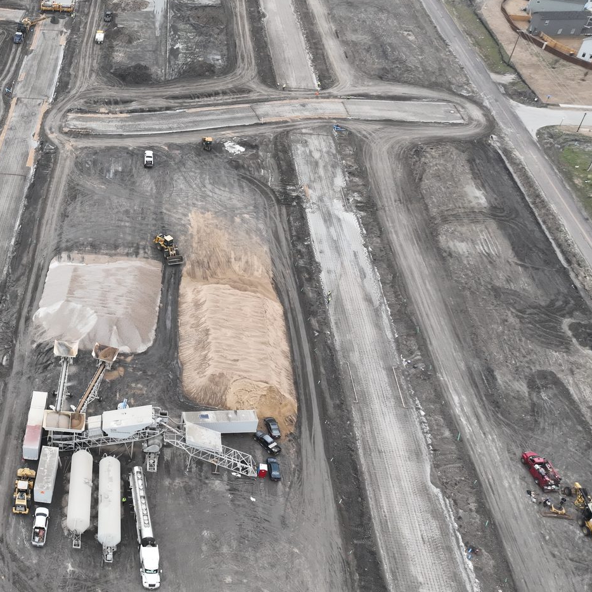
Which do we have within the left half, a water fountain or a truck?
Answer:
truck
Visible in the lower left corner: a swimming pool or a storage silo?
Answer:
storage silo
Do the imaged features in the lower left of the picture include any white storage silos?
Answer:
Yes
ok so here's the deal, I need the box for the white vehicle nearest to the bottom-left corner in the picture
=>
[32,507,49,547]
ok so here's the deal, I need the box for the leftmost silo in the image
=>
[67,449,93,560]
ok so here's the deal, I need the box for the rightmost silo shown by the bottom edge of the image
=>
[97,456,120,578]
